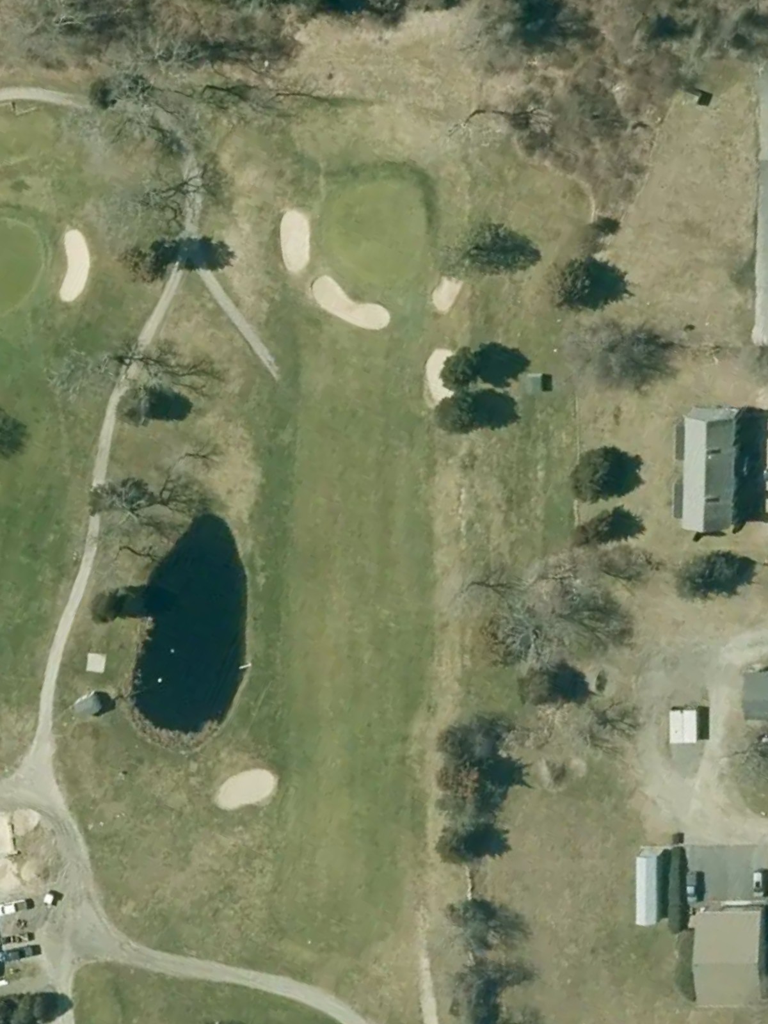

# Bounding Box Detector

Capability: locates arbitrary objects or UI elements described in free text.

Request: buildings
[637,850,662,927]
[525,372,544,391]
[685,87,703,103]
[674,410,742,535]
[670,705,699,744]
[741,665,768,719]
[688,904,767,1006]
[72,686,108,717]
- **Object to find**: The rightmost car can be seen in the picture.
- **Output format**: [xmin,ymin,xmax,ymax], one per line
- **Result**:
[753,868,765,894]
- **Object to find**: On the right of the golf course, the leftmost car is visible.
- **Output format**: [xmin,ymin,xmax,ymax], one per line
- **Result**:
[686,872,698,898]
